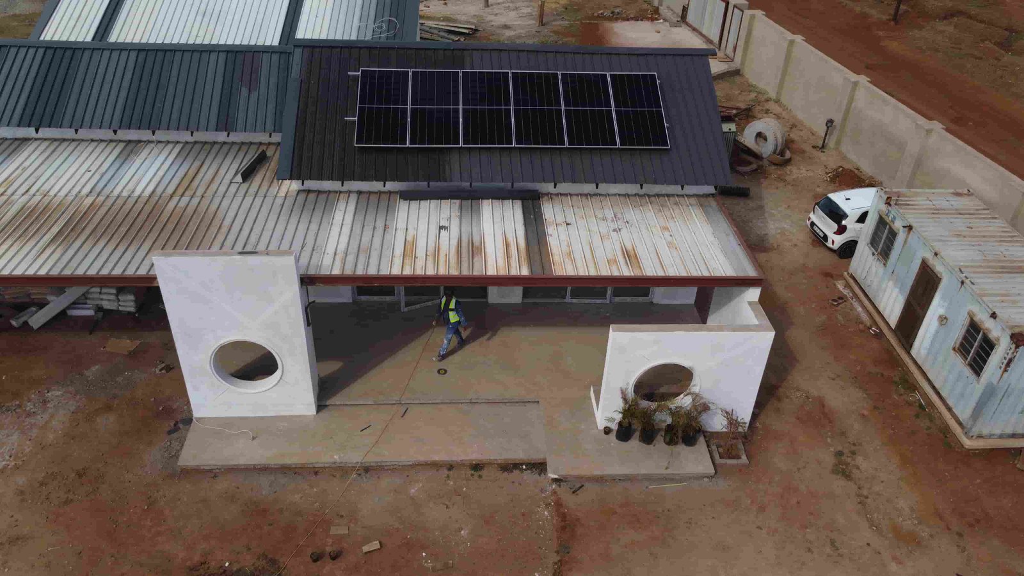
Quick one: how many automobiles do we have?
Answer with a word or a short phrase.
one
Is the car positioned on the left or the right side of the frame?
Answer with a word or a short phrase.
right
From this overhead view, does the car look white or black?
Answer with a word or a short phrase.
white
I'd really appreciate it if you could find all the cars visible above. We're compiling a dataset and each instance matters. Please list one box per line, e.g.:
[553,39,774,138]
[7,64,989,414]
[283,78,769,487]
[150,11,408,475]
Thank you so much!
[810,186,880,257]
